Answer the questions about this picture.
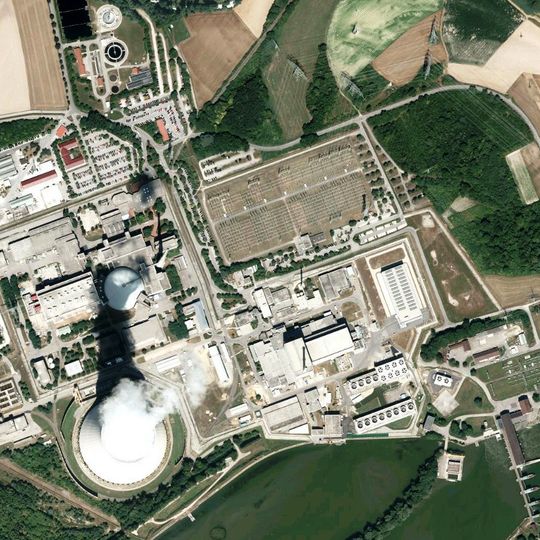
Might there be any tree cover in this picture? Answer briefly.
Yes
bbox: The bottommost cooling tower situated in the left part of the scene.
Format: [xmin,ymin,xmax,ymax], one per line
[77,394,168,486]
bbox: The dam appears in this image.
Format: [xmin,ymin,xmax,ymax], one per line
[513,464,540,531]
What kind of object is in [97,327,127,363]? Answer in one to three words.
building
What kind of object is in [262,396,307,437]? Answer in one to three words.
building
